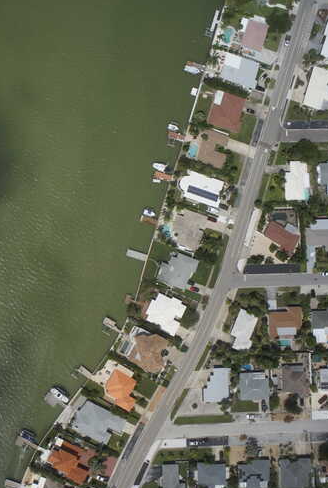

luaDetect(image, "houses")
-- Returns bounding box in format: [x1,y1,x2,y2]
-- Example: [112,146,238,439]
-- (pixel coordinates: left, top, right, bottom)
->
[319,21,328,61]
[207,90,247,133]
[127,334,170,372]
[172,208,208,251]
[236,458,270,488]
[218,54,259,88]
[48,443,91,485]
[106,369,136,411]
[239,15,268,53]
[229,309,257,349]
[276,456,311,488]
[315,163,328,193]
[300,66,328,111]
[73,400,127,441]
[145,294,188,335]
[177,170,223,207]
[303,219,328,251]
[262,221,300,253]
[157,253,199,287]
[158,462,187,488]
[237,371,270,400]
[266,306,302,336]
[281,161,311,199]
[196,462,226,488]
[196,130,229,167]
[308,310,328,343]
[202,367,231,402]
[315,362,328,393]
